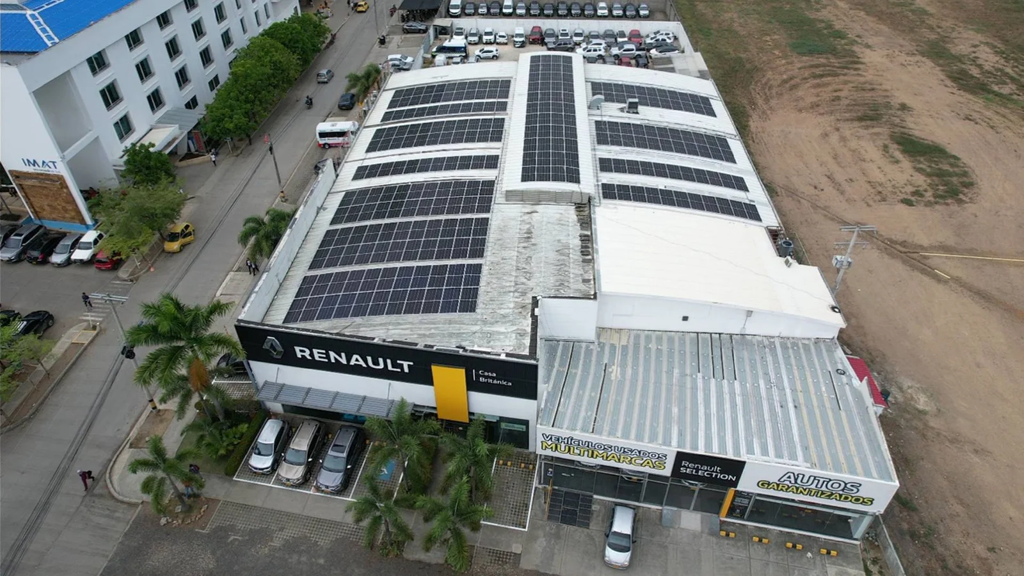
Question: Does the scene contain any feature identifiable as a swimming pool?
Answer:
No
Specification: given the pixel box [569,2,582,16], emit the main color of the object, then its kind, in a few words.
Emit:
gray vehicle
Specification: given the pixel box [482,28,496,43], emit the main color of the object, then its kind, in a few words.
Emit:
white car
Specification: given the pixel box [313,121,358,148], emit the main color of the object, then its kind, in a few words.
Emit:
white vehicle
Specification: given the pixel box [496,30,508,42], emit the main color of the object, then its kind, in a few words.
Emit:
white vehicle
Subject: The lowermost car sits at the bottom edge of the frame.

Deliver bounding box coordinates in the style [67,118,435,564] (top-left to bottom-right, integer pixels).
[603,499,639,568]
